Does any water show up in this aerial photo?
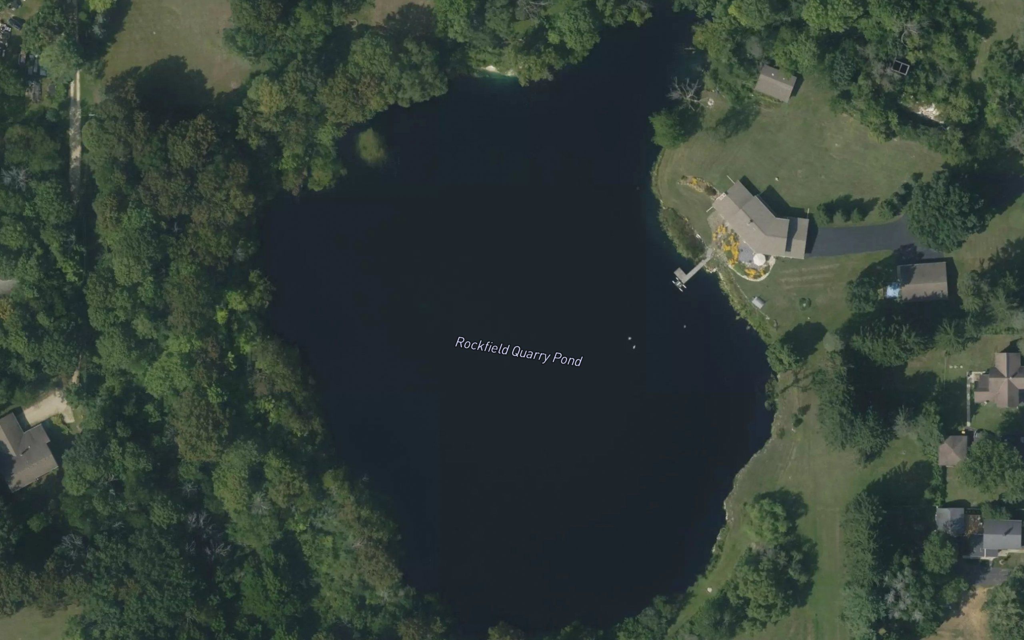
Yes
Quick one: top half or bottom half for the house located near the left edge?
bottom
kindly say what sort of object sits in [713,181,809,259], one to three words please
house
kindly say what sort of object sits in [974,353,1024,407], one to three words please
house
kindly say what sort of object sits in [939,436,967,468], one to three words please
shed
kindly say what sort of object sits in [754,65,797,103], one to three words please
shed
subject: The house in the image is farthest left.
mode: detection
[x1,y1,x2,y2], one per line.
[0,413,58,492]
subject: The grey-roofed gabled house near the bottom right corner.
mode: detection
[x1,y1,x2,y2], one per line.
[962,520,1022,558]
